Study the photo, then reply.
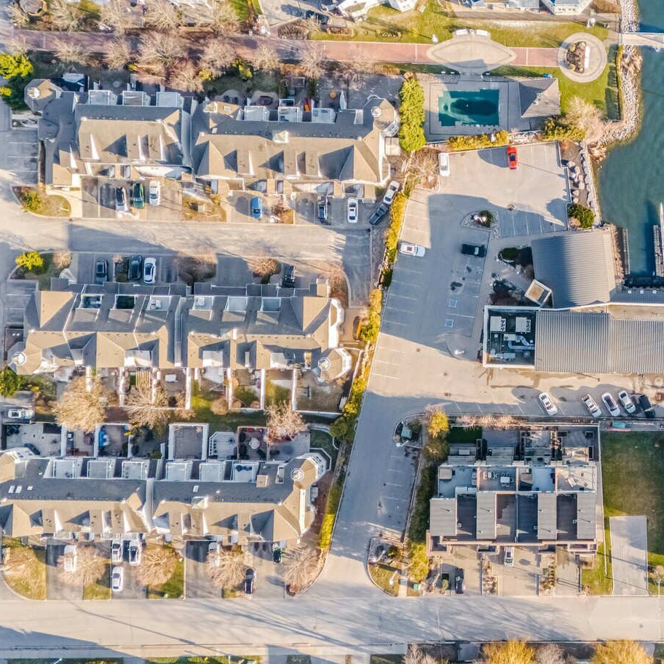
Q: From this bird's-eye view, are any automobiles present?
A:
Yes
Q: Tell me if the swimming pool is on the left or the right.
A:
right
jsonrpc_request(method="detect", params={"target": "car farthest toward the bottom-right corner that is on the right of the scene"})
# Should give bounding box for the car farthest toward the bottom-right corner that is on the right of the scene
[503,545,515,571]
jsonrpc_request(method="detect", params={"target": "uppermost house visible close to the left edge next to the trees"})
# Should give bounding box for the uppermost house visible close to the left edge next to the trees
[25,81,199,190]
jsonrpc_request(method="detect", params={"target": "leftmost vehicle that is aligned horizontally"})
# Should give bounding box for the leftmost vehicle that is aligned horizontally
[8,408,35,421]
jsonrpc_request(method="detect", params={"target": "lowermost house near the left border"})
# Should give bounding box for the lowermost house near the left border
[0,447,167,545]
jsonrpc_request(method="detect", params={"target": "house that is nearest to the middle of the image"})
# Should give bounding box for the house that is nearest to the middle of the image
[181,282,356,382]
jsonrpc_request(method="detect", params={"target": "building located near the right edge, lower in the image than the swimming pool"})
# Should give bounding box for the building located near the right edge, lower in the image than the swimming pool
[482,232,664,375]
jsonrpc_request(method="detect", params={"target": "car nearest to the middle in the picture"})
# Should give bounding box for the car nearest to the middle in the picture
[282,264,296,287]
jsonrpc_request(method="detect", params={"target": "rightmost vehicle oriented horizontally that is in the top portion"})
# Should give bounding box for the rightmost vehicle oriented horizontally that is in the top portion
[459,244,489,257]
